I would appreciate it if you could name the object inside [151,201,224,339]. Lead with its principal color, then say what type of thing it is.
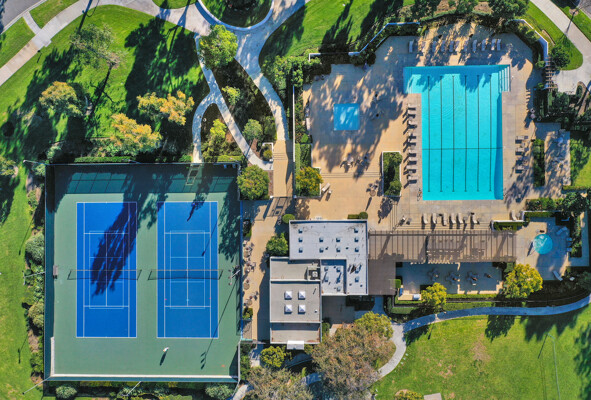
blue tennis court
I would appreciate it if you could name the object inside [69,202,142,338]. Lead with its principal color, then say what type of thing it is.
blue tennis court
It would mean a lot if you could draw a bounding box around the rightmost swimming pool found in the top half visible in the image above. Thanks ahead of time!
[403,63,513,201]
